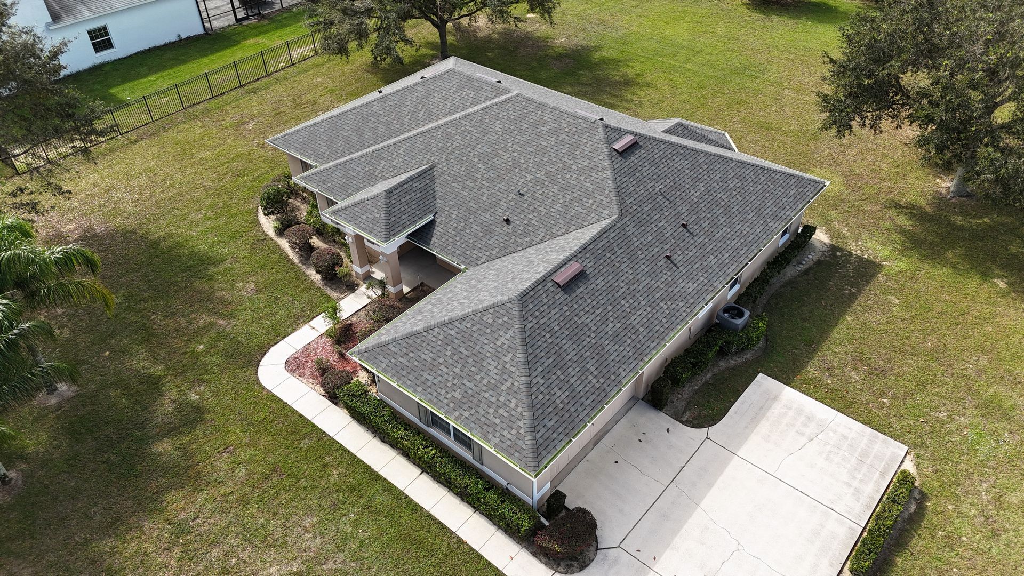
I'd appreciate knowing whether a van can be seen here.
No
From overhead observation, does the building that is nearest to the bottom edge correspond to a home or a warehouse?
home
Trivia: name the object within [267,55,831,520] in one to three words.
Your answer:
house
